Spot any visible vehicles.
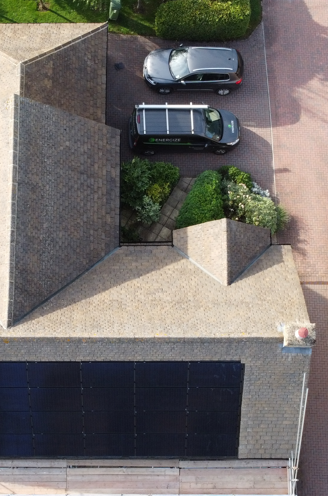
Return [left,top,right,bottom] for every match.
[128,102,242,157]
[142,44,245,99]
